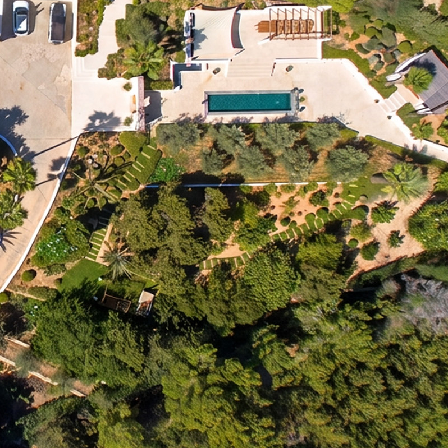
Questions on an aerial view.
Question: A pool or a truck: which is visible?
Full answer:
Looking from above, you can make out a pool.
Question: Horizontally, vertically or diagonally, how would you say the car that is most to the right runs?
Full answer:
The car that is most to the right is oriented vertically.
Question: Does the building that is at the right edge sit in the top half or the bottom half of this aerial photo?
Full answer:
It is in the top half that the building that is at the right edge appears.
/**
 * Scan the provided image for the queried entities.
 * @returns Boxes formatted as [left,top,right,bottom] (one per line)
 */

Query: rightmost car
[48,1,68,45]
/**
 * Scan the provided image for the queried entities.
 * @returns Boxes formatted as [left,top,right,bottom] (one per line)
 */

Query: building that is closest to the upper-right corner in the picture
[395,49,448,113]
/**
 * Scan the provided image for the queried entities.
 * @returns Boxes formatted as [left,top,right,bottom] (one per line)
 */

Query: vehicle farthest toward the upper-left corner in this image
[13,0,31,36]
